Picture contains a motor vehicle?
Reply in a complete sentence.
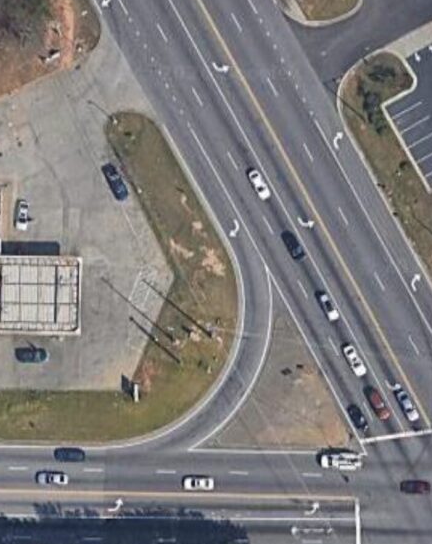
Yes, the picture does show a motor vehicle.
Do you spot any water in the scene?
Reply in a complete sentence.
No, there's no water in this view.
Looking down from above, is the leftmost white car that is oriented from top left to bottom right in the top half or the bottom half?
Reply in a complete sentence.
The top half of the photo is where the leftmost white car that is oriented from top left to bottom right is.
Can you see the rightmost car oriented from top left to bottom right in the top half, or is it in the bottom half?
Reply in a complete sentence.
It is in the bottom half that the rightmost car oriented from top left to bottom right appears.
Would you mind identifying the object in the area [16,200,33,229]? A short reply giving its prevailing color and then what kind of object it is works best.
white car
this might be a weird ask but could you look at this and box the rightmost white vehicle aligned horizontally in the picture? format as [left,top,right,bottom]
[319,453,361,469]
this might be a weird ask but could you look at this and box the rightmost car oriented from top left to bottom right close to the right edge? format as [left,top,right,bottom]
[393,388,418,421]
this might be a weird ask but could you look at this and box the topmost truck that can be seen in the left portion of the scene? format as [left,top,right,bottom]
[102,164,127,200]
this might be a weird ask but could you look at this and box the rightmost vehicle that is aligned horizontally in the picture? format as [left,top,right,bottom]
[400,480,430,494]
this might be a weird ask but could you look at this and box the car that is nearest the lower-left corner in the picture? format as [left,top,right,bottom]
[37,472,68,485]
